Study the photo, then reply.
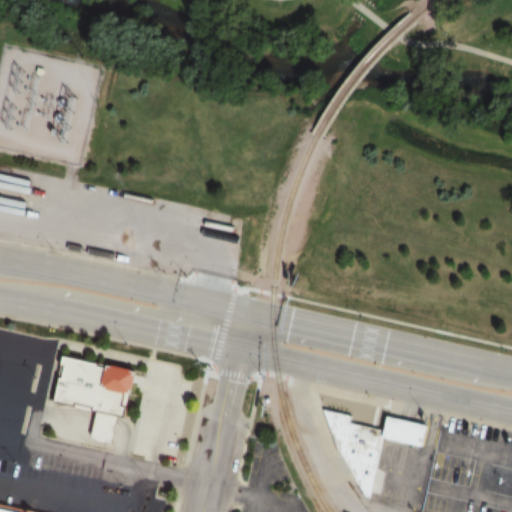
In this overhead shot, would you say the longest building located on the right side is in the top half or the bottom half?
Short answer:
bottom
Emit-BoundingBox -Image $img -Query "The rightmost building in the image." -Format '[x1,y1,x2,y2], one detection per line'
[384,416,428,448]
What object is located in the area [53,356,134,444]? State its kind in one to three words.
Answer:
building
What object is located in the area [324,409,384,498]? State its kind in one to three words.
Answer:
building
